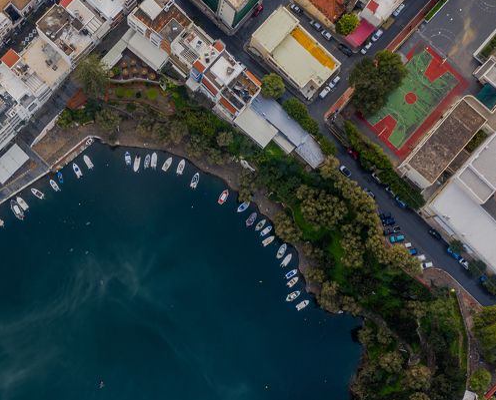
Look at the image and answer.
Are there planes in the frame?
No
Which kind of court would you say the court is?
basketball court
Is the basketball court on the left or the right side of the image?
right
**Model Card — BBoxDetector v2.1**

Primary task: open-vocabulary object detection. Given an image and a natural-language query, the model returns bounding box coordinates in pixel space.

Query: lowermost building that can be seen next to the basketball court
[418,179,496,277]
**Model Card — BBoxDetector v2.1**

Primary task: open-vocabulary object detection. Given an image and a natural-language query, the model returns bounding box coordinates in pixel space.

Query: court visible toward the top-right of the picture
[354,42,469,158]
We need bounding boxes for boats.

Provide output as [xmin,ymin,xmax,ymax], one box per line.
[11,200,26,221]
[161,157,172,173]
[151,152,158,170]
[246,212,257,227]
[18,196,31,212]
[279,254,292,268]
[263,236,274,244]
[52,180,62,192]
[260,226,271,237]
[84,155,95,170]
[284,269,298,280]
[255,220,266,231]
[285,277,299,289]
[145,154,151,170]
[190,173,200,189]
[275,244,287,260]
[295,300,310,312]
[73,164,83,179]
[218,189,228,205]
[236,202,249,213]
[31,188,46,200]
[134,154,142,172]
[177,159,186,176]
[285,291,301,303]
